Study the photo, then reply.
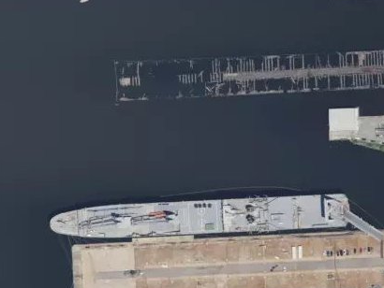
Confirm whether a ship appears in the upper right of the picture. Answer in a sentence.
No, no ship appears in the upper right of the picture.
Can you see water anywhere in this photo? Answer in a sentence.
Yes, there's water in this view.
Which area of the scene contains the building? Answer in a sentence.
The building sits in the right section of the image.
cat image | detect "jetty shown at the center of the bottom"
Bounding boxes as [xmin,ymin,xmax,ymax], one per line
[74,230,384,288]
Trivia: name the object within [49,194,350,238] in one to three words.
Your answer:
ship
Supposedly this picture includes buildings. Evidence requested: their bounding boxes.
[329,108,362,133]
